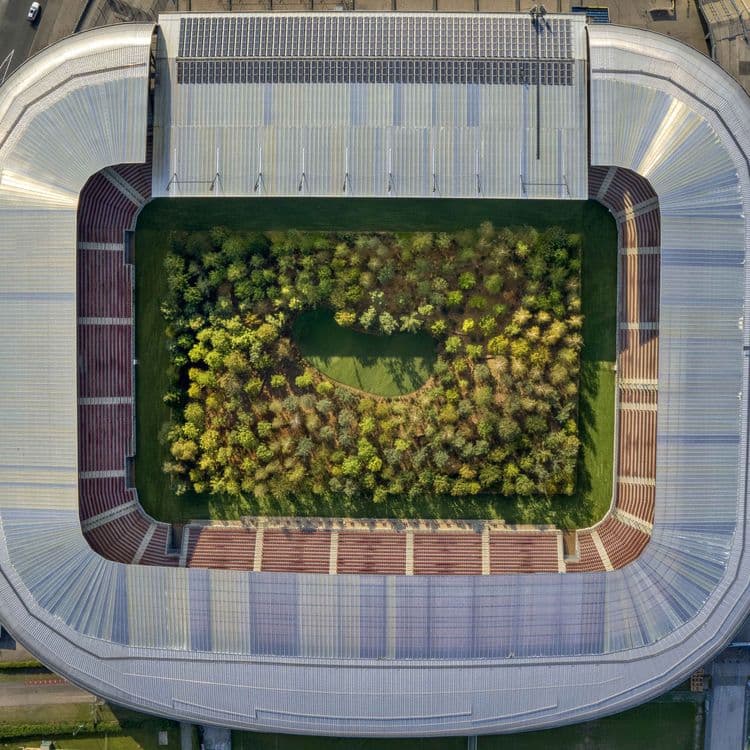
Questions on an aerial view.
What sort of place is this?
sports ground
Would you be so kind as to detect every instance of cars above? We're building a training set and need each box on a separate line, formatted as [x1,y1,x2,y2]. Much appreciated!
[26,1,39,21]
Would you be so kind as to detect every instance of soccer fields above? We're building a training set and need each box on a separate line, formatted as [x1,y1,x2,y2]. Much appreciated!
[135,195,616,520]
